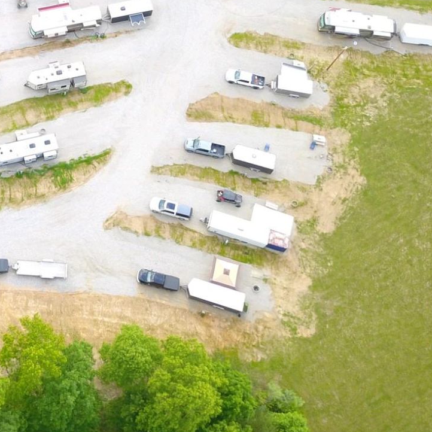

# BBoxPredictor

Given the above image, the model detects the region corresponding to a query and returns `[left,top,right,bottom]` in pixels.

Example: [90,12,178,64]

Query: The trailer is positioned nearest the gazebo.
[180,278,246,313]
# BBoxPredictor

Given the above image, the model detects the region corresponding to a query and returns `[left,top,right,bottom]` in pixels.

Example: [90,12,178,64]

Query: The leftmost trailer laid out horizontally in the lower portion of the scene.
[11,258,66,279]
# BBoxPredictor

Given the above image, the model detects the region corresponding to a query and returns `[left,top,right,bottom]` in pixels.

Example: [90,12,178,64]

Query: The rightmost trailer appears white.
[392,25,432,46]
